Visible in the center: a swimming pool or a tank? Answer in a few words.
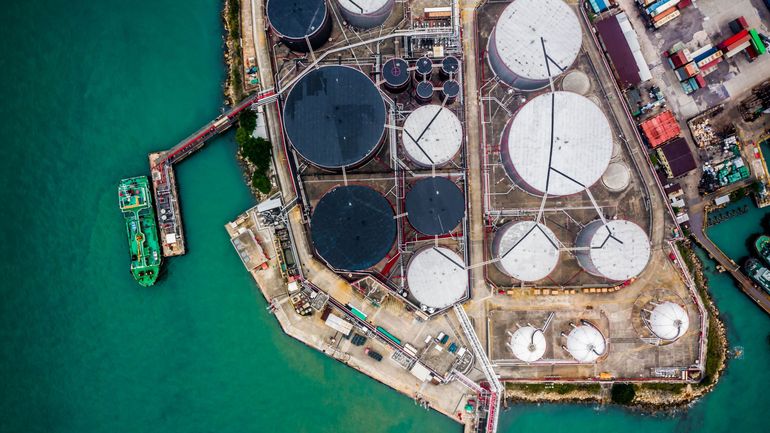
tank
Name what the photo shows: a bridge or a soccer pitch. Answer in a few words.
bridge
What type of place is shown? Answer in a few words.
port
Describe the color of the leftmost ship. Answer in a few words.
green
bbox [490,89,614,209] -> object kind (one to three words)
storage tank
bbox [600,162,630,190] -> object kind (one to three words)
water tank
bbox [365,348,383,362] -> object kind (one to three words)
vehicle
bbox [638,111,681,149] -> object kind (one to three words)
shed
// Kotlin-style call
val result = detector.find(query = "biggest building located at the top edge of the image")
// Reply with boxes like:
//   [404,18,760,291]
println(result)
[594,15,641,91]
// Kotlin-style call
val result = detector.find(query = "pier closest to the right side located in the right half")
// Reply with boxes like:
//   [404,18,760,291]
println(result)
[696,241,770,315]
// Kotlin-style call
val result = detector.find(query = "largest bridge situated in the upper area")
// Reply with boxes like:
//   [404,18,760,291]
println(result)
[153,101,277,167]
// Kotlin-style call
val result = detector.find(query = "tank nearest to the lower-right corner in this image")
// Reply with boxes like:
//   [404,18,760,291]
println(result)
[566,207,652,288]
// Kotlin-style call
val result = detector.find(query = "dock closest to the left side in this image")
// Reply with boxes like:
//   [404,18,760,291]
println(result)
[147,151,186,258]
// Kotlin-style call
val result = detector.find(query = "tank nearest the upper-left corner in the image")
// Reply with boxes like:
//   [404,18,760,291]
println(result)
[263,0,338,60]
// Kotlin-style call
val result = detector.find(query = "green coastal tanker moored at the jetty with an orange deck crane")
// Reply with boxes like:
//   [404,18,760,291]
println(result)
[116,160,166,288]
